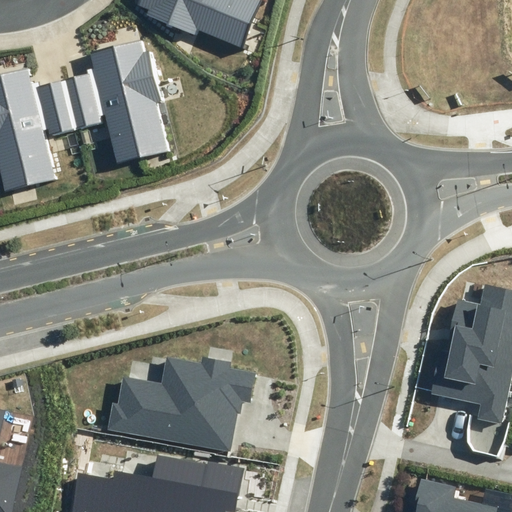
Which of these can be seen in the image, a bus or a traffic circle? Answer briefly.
traffic circle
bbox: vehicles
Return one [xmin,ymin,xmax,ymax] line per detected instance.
[452,411,466,440]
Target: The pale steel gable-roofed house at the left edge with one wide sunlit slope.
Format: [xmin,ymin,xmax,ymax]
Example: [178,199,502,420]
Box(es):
[0,68,60,190]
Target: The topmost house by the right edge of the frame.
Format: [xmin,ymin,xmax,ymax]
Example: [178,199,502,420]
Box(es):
[432,285,512,424]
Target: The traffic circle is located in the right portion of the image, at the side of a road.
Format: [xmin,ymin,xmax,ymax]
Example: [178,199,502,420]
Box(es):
[295,155,407,268]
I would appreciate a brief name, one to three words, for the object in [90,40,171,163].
house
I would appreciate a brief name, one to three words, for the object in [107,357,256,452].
house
